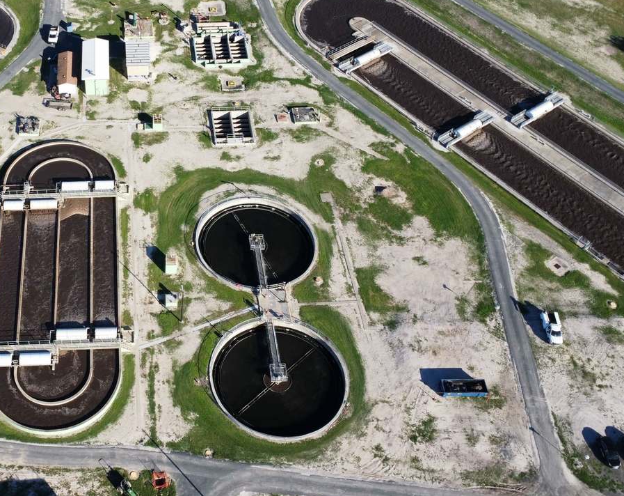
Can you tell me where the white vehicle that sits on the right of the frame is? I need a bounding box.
[538,307,569,347]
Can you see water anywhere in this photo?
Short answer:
Yes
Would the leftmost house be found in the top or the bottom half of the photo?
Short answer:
top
